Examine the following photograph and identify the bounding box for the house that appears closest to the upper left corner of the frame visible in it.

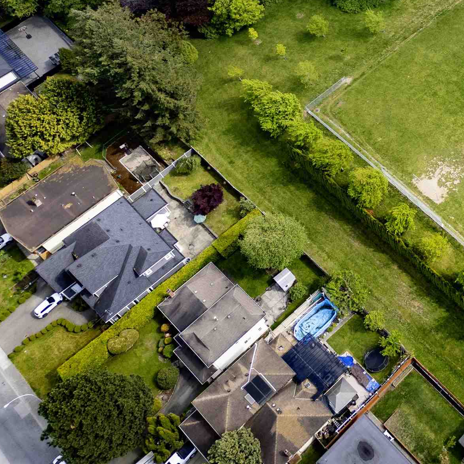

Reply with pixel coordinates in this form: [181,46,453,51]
[0,34,46,95]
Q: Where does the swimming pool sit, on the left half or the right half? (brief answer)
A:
right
